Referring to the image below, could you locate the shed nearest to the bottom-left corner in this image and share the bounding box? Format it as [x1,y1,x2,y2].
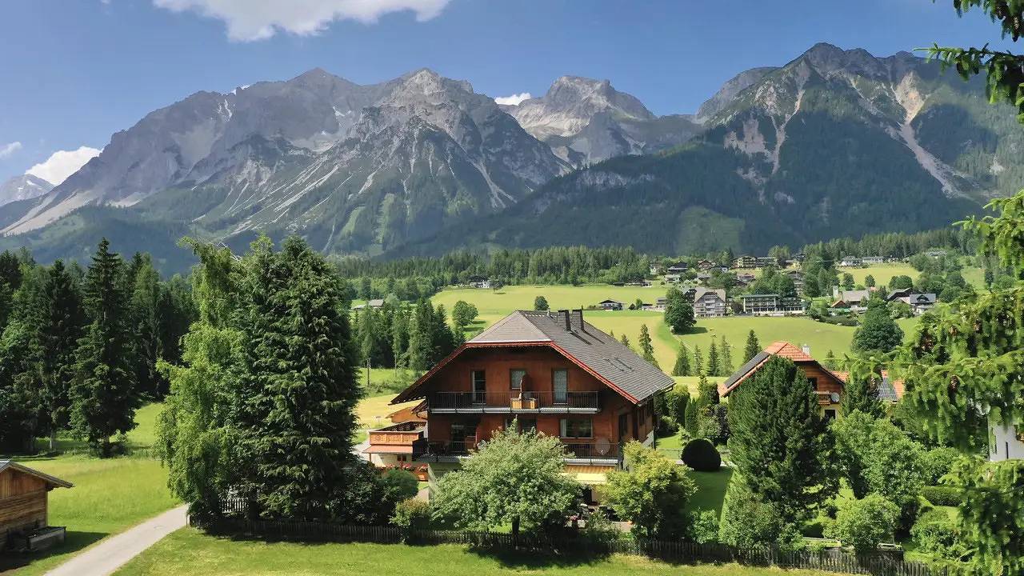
[0,463,75,543]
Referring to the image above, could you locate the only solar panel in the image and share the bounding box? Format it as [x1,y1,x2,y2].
[724,342,772,381]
